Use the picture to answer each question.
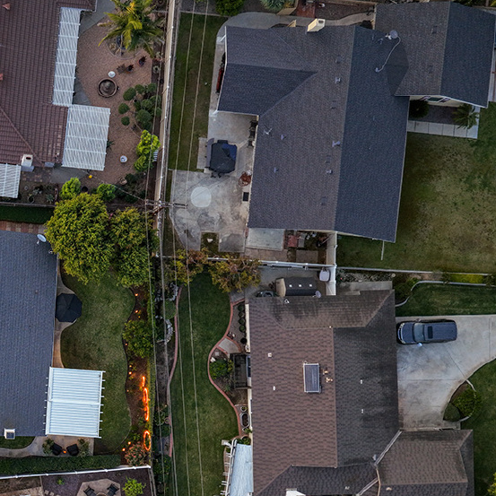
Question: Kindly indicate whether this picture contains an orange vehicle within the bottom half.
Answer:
No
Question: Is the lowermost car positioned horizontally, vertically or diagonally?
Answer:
horizontally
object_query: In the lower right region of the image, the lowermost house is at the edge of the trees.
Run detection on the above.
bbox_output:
[247,289,474,496]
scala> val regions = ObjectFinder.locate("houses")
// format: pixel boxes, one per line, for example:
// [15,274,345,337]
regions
[0,0,96,174]
[0,231,56,440]
[216,0,496,243]
[247,289,474,496]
